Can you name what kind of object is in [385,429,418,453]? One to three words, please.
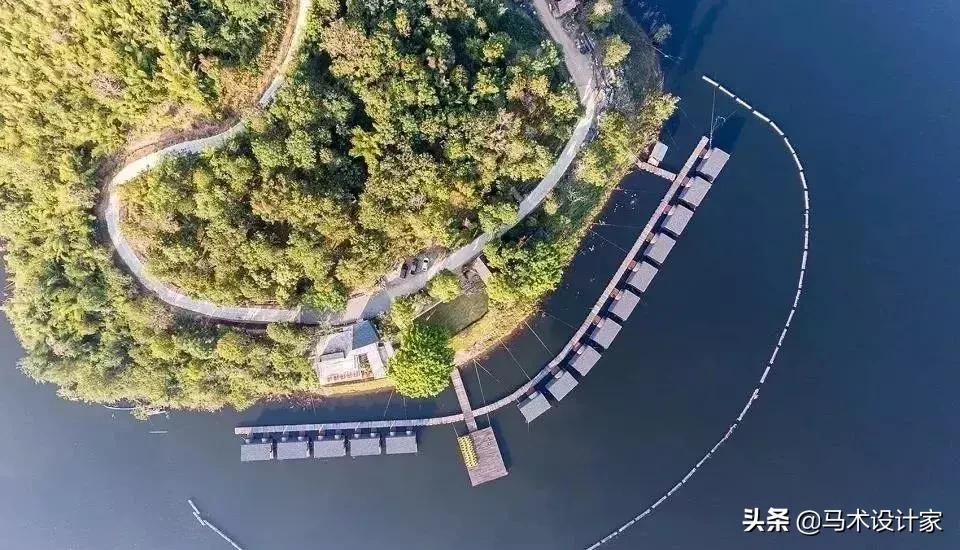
building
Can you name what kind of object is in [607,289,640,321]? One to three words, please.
building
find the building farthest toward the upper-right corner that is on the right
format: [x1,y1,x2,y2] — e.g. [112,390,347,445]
[693,148,728,183]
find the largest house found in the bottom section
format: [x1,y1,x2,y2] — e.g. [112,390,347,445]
[319,320,390,389]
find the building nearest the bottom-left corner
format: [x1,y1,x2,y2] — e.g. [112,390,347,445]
[241,437,276,461]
